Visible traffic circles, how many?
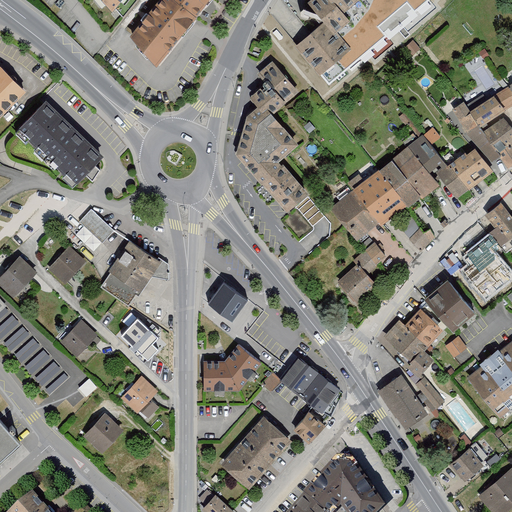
1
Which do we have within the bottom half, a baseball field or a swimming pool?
swimming pool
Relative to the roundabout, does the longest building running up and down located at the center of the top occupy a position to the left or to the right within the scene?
right of it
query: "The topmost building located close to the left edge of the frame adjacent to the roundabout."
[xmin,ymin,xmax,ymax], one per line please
[14,101,103,188]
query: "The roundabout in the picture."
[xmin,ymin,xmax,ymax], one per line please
[138,116,220,208]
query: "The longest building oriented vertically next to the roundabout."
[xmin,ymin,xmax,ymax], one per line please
[236,61,308,212]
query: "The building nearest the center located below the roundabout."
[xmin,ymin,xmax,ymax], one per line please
[208,283,247,322]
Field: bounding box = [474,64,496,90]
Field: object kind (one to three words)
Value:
swimming pool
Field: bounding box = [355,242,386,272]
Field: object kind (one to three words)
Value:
house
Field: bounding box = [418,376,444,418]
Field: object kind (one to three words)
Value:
shed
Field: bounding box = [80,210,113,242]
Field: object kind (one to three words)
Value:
building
